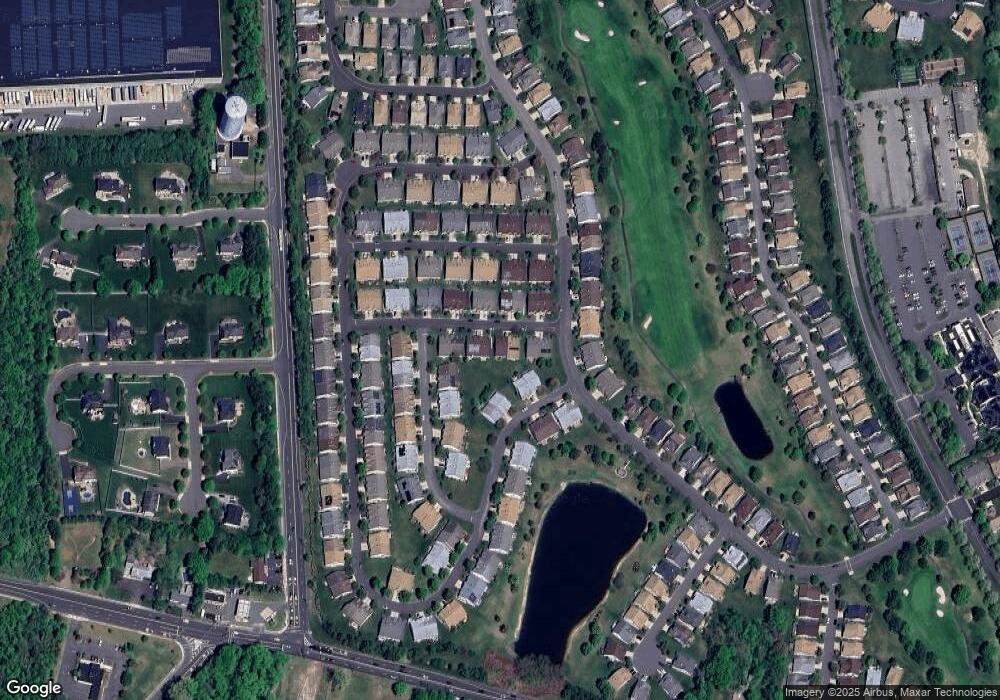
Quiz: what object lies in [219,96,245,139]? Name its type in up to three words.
water tower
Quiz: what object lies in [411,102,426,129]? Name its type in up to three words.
house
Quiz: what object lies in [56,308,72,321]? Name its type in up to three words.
swimming pool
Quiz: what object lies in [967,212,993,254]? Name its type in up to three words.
tennis court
